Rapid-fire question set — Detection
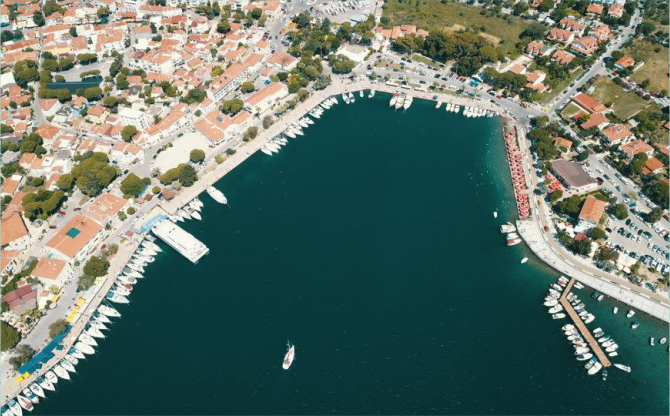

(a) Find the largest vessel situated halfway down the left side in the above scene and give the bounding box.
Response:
[154,219,210,266]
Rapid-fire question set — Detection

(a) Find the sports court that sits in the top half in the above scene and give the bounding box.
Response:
[49,76,106,91]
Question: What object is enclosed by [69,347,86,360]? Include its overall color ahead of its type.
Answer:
white boat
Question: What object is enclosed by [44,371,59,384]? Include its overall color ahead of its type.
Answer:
white boat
